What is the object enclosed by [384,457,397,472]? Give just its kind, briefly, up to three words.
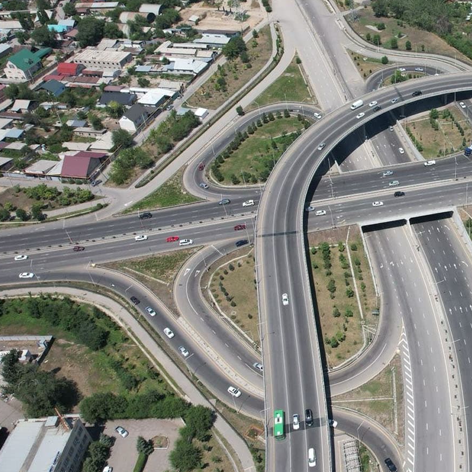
vehicle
